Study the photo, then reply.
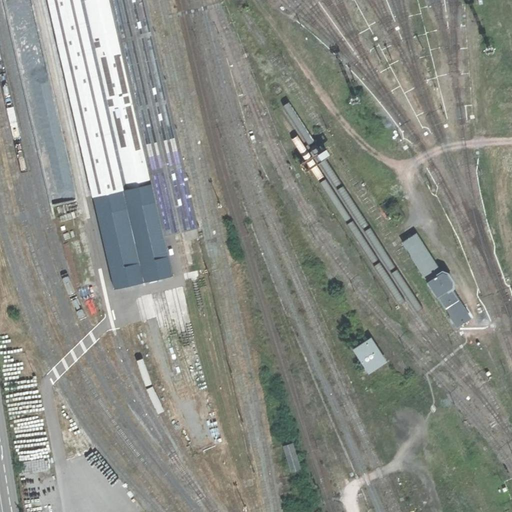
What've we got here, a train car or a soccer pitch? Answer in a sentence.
The image shows a train car.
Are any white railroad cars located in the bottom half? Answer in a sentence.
Yes, the scene does show a white railroad car in the bottom half.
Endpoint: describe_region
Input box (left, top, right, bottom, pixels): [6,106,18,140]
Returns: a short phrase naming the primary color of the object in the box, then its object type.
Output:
white rail car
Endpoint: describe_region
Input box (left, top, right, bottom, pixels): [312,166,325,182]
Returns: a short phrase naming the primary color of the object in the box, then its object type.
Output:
white rail car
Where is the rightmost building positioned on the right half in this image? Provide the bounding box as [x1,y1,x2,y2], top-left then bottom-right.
[428,272,472,328]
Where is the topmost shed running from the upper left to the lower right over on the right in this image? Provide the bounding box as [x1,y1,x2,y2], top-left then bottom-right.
[403,233,438,278]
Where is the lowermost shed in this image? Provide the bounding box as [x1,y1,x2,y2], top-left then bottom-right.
[283,444,302,474]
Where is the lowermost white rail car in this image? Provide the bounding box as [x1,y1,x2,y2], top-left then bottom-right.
[148,387,164,415]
